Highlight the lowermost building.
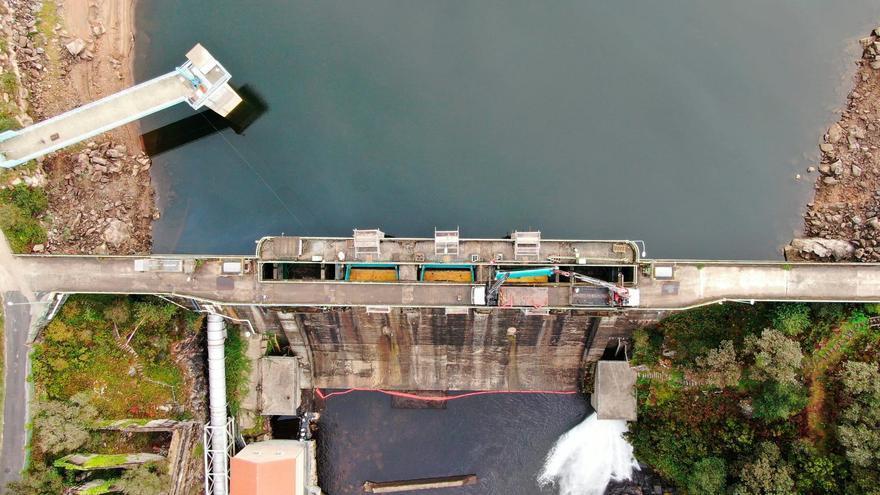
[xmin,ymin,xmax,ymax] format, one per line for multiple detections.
[229,439,306,495]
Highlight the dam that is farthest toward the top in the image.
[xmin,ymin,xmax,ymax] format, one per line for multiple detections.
[34,238,880,410]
